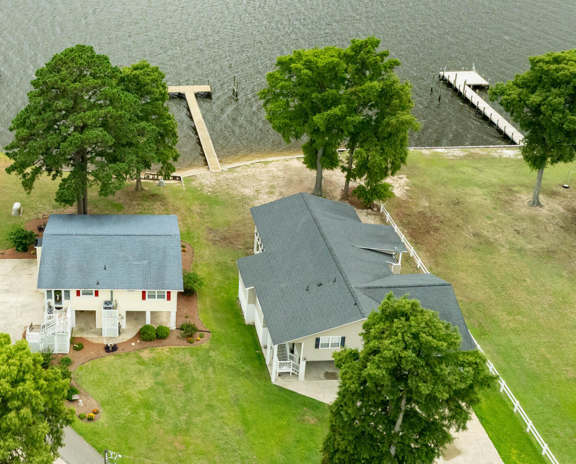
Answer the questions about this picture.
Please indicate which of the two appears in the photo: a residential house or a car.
residential house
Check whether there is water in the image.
Yes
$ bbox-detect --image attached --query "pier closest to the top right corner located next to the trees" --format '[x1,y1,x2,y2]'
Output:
[430,62,524,145]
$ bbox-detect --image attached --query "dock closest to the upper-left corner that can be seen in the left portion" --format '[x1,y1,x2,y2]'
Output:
[168,79,220,171]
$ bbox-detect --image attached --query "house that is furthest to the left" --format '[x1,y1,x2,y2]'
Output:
[36,215,184,328]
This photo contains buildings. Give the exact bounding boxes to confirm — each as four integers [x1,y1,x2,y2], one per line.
[36,215,184,328]
[236,192,477,390]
